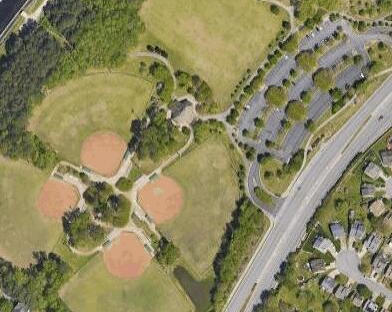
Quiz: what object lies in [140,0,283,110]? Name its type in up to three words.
sports field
